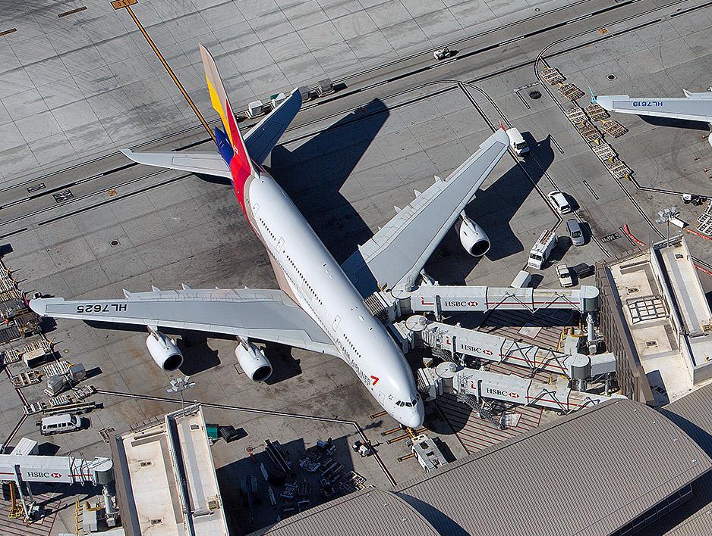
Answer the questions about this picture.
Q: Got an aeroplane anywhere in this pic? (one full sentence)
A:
Yes, an aeroplane can be made out from above.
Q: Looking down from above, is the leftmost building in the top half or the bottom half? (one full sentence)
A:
It is in the bottom half that the leftmost building appears.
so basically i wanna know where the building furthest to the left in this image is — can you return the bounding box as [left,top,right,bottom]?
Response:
[113,403,227,536]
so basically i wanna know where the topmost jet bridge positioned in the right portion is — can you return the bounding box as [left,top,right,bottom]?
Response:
[366,279,605,355]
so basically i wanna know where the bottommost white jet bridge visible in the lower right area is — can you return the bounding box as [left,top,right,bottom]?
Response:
[410,361,627,435]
